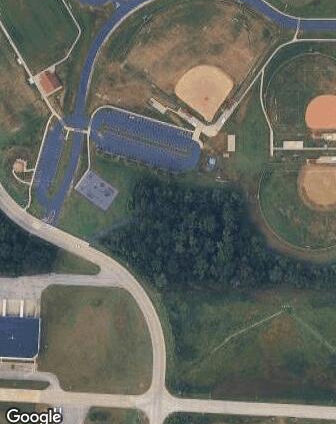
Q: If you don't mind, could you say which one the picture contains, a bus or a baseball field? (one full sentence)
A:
The one in the frame is a baseball field.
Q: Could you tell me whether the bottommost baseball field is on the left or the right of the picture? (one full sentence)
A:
The bottommost baseball field is on the right side of the image.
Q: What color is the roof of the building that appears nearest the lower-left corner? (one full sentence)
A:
The roof over the building that appears nearest the lower-left corner appears blue.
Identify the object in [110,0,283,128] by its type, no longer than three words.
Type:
baseball field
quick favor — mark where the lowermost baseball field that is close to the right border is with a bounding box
[261,162,336,253]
